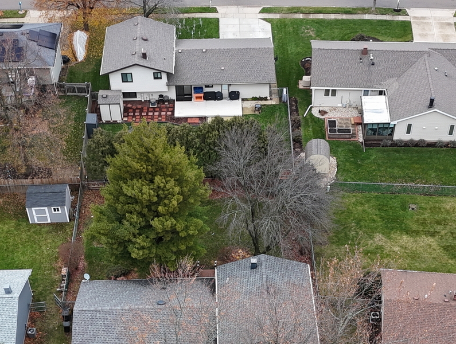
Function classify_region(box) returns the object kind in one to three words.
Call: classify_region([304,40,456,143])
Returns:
house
